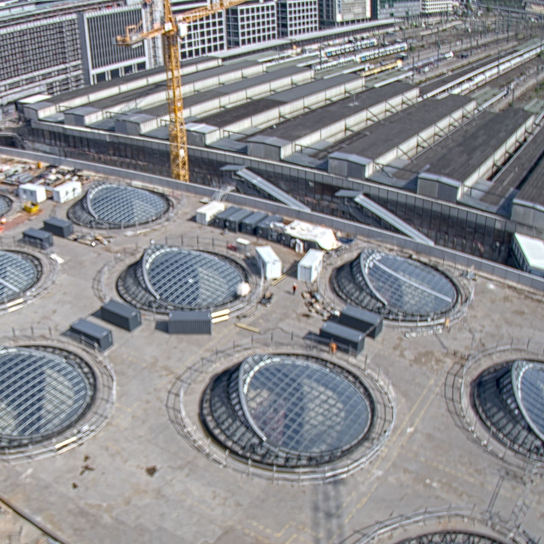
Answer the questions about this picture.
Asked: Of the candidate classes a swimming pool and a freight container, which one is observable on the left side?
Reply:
freight container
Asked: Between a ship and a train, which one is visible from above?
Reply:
train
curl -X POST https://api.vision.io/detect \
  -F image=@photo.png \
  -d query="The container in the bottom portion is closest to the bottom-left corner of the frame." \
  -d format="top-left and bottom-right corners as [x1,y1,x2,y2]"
[69,318,115,355]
